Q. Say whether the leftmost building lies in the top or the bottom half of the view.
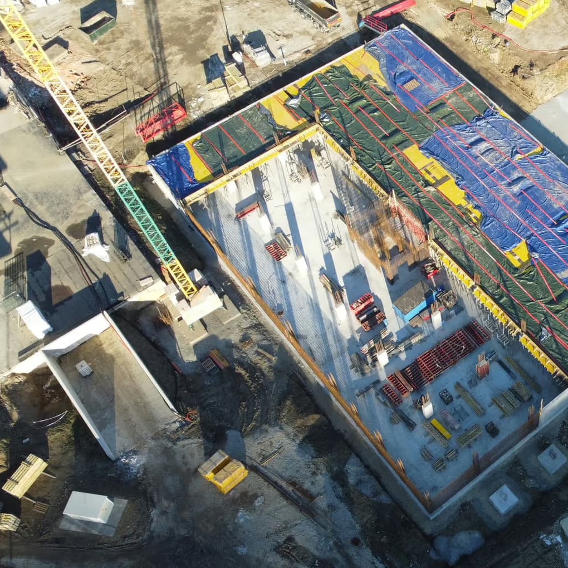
bottom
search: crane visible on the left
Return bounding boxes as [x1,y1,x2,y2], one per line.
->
[0,0,231,330]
